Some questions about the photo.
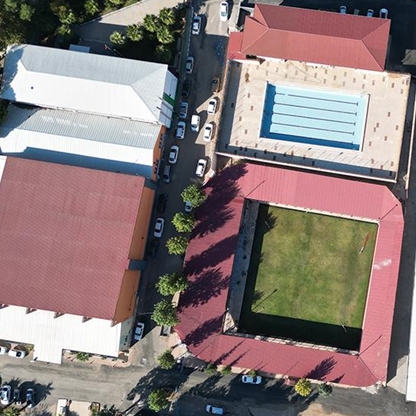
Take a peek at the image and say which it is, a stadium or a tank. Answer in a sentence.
The one in the frame is a stadium.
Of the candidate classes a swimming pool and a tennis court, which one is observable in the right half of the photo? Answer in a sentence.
Visible in the right half of the photo is a swimming pool.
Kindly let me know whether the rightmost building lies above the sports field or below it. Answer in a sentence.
In the image, the rightmost building sits above the sports field.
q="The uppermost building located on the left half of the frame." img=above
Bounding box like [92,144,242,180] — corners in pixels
[1,45,177,129]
